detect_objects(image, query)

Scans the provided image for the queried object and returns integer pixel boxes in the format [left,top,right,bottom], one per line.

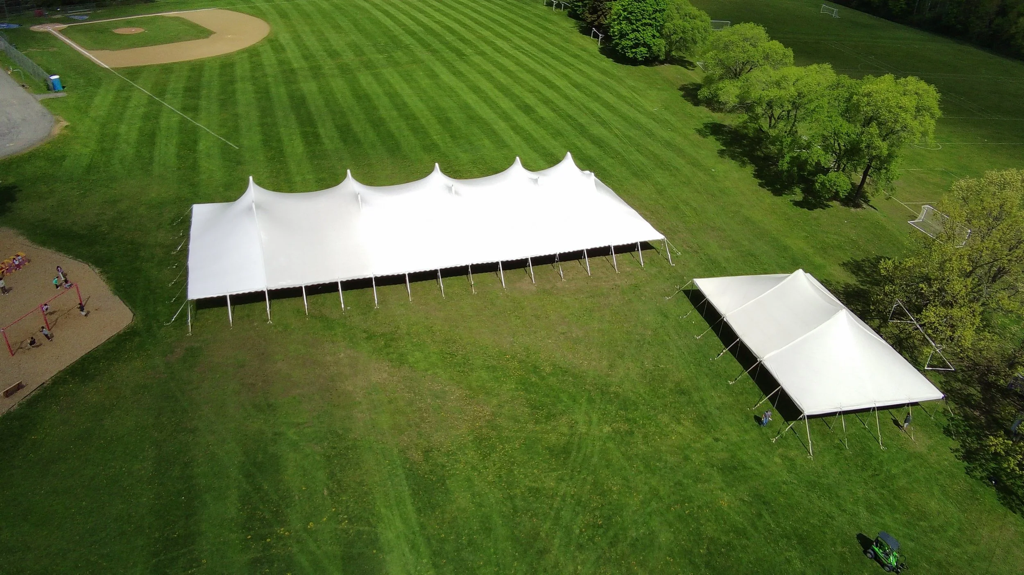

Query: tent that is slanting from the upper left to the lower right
[664,270,959,461]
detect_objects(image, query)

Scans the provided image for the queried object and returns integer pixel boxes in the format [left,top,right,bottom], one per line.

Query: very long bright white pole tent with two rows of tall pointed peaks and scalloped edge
[162,149,680,336]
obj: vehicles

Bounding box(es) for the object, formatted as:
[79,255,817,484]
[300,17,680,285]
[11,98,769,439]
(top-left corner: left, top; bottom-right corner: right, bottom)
[864,528,918,575]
